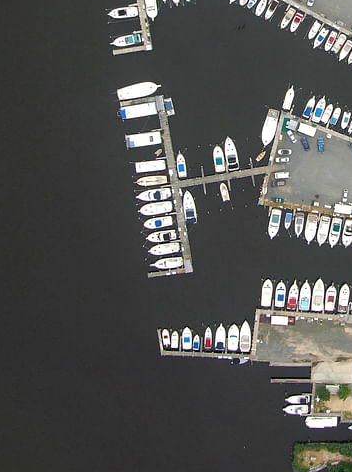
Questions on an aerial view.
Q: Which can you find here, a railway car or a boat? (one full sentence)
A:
Visible in the photo is a boat.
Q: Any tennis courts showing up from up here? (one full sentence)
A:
No, no tennis court can be seen from above.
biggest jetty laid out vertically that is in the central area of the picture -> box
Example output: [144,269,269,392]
[160,104,192,273]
